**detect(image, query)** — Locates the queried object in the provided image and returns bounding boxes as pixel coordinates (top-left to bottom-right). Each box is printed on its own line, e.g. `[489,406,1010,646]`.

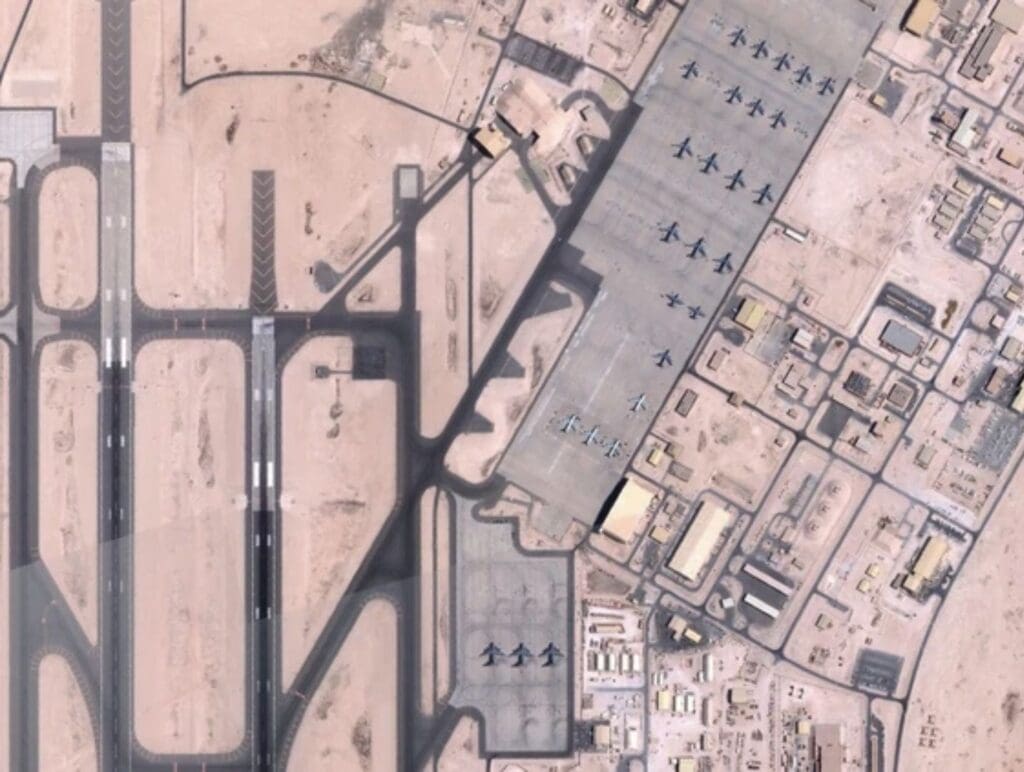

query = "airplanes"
[689,239,706,258]
[748,99,765,118]
[701,154,718,173]
[674,139,691,158]
[730,29,746,48]
[716,255,733,273]
[481,642,505,668]
[682,62,698,80]
[690,305,707,320]
[755,185,772,204]
[668,293,685,307]
[662,223,679,242]
[752,41,768,60]
[657,351,670,366]
[774,53,791,72]
[603,440,620,459]
[583,428,599,446]
[540,642,565,668]
[727,171,744,190]
[818,77,835,96]
[560,416,576,434]
[796,66,813,85]
[511,642,535,668]
[770,111,787,130]
[726,86,743,105]
[629,394,645,413]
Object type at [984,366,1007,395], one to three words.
building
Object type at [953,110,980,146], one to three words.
building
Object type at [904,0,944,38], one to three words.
hangar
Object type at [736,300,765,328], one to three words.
hangar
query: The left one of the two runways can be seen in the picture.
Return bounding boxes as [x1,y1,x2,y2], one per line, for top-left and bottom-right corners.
[98,0,135,772]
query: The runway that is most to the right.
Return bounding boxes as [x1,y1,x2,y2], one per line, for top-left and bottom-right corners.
[235,170,290,772]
